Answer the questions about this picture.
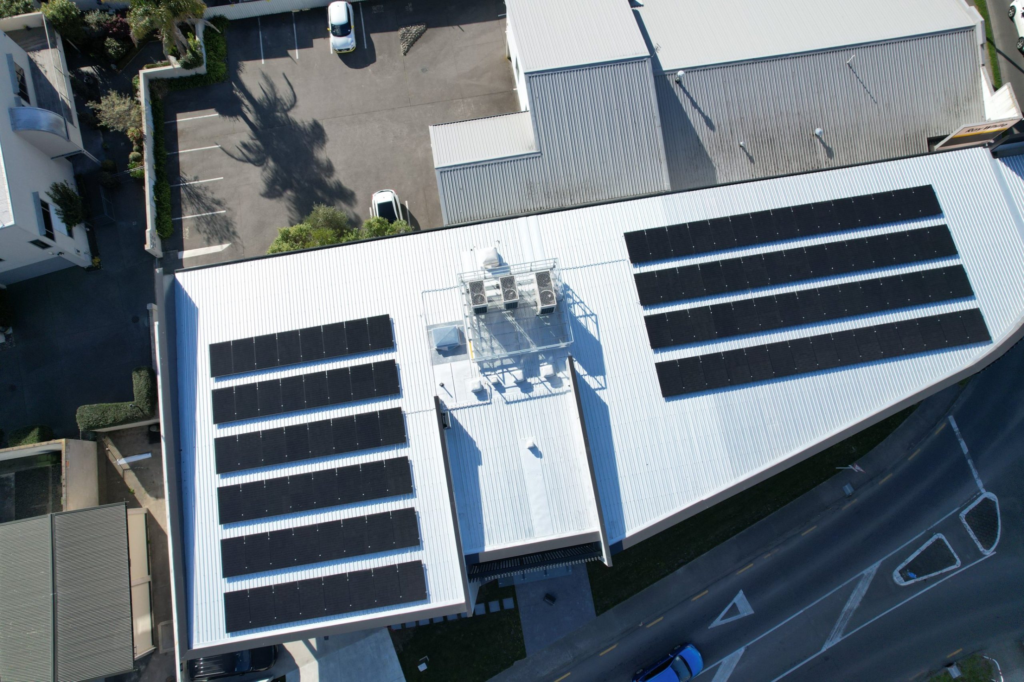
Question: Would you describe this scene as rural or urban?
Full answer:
From above, the setting appears urban.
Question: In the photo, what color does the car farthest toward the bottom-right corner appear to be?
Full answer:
The car farthest toward the bottom-right corner looks blue in the image.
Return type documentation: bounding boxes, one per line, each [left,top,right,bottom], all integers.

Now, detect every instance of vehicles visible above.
[630,641,705,682]
[1007,0,1024,52]
[326,0,360,56]
[179,644,280,680]
[372,189,406,235]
